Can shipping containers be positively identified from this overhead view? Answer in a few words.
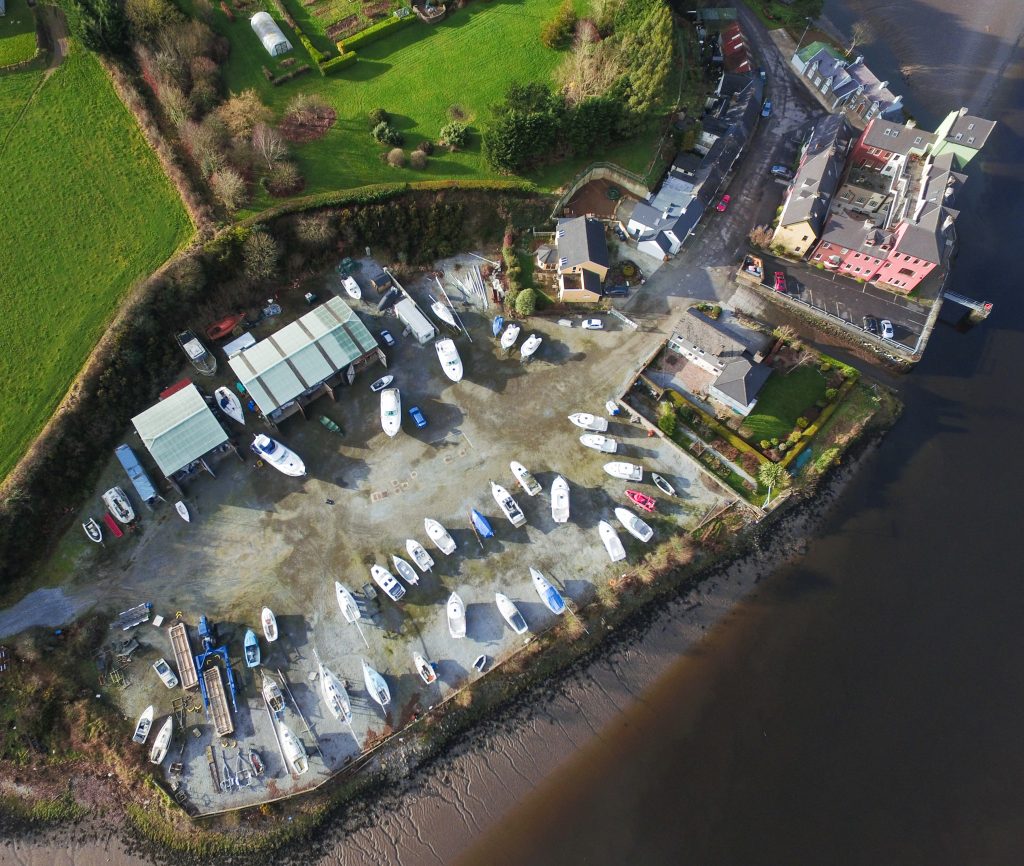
Yes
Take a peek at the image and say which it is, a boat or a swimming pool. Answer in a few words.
boat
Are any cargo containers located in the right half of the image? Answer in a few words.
No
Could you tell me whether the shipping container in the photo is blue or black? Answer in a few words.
blue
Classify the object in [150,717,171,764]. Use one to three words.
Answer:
boat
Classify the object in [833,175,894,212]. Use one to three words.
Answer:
building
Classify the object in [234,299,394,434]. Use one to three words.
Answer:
shed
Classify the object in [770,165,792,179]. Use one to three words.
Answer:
car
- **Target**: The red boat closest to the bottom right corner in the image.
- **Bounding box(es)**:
[625,489,657,512]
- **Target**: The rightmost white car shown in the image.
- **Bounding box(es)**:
[879,320,894,340]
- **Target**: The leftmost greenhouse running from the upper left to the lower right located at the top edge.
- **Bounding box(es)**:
[249,4,291,52]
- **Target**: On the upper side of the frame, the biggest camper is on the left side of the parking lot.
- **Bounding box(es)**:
[396,298,436,346]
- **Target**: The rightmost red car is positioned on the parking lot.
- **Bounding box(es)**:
[773,271,785,291]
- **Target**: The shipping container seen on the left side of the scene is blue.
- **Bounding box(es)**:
[116,444,161,510]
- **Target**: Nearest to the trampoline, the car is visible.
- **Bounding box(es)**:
[612,224,628,242]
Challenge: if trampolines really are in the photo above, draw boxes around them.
[604,185,622,202]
